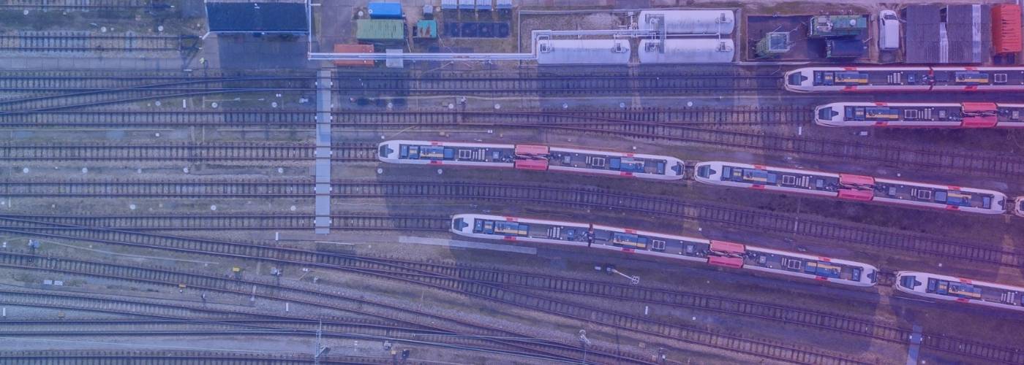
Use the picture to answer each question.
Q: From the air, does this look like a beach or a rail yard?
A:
rail yard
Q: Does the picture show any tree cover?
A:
No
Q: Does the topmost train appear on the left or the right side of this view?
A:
right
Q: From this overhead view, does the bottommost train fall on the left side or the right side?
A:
right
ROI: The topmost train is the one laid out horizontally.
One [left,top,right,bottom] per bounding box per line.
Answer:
[778,67,1024,94]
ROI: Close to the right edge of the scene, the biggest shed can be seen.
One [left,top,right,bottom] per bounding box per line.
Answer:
[897,4,991,65]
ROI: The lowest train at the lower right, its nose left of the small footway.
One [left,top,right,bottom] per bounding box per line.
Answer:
[892,271,1024,313]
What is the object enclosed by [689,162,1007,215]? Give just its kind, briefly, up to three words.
train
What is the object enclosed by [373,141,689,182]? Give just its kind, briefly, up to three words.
train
